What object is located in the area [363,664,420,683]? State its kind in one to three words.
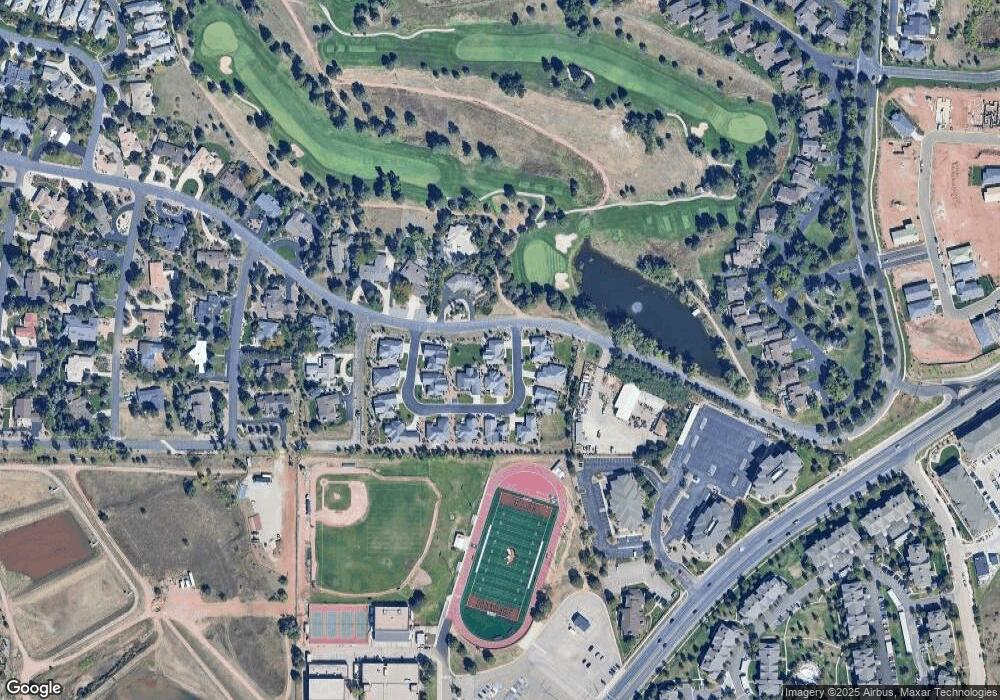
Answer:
building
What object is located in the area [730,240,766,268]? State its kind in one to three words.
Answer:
house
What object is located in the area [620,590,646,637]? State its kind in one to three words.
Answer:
building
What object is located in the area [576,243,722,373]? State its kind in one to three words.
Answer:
pond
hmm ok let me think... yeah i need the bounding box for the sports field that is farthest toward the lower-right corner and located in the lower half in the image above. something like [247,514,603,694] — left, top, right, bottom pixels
[463,488,557,638]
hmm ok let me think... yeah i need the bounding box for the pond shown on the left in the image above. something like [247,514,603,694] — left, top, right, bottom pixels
[0,512,94,580]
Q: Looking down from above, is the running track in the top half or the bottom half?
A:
bottom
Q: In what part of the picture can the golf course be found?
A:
top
